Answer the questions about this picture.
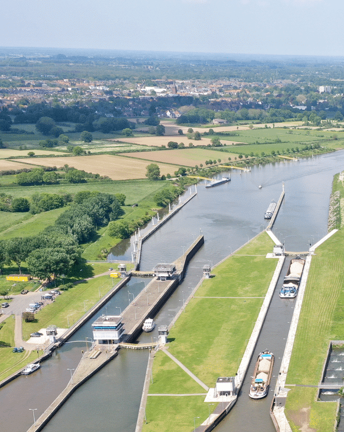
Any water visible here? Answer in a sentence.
Yes, there is water in the image.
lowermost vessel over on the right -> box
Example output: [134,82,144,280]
[246,341,276,397]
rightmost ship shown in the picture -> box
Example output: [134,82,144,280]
[278,255,308,297]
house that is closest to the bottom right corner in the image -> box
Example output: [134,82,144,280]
[212,376,234,396]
